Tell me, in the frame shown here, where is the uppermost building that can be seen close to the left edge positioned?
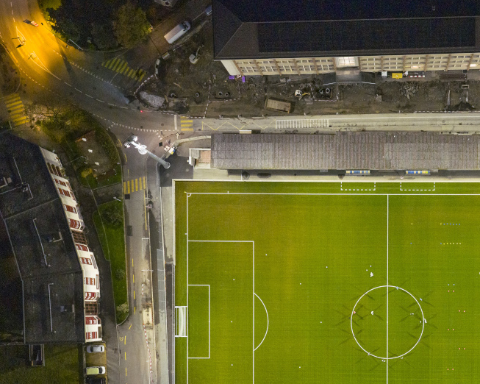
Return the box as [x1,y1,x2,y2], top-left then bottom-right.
[0,131,101,344]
